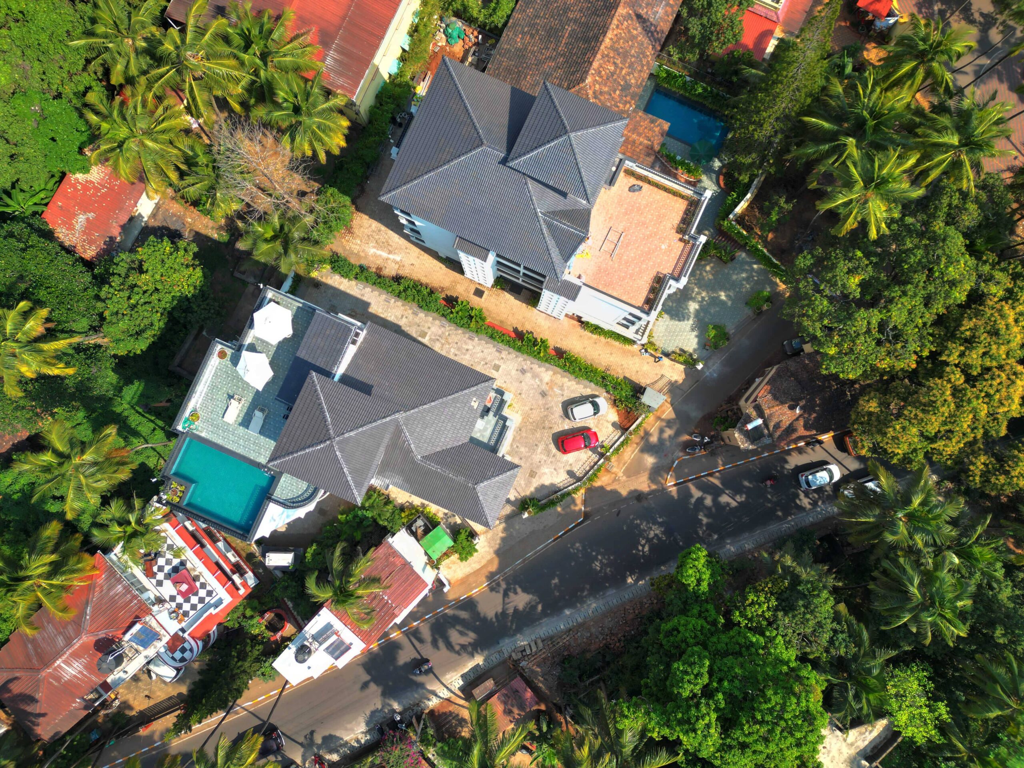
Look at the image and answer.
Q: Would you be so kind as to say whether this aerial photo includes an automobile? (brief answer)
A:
Yes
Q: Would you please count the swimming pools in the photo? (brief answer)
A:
2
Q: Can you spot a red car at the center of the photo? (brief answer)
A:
Yes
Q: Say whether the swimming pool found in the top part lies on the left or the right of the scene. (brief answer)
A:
right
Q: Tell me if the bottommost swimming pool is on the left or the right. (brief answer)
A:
left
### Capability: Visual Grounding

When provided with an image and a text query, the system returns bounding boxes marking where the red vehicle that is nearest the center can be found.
[558,428,599,454]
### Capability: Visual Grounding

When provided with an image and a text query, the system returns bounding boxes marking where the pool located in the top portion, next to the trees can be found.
[641,83,737,166]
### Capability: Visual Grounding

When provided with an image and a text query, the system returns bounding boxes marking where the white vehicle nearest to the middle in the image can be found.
[567,396,608,422]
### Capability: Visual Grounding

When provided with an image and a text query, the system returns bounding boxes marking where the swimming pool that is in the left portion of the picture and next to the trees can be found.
[171,438,275,534]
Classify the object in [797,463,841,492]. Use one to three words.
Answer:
car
